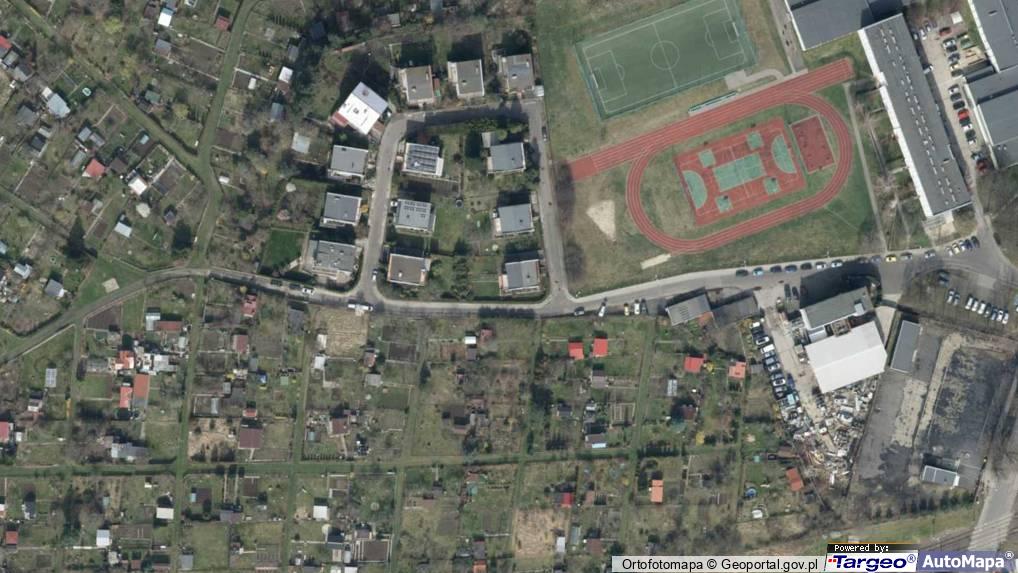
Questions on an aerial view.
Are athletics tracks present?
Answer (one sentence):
Yes, I can see an athletics track in this picture.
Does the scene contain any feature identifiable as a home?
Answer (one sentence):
Yes, there's a home here.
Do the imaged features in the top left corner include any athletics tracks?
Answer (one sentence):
No, looking in the top left corner, there is no athletics track.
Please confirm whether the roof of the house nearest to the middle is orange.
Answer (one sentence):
No, from above the roof of the house nearest to the middle looks gray.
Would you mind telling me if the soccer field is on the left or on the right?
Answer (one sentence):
The soccer field is on the right side of the image.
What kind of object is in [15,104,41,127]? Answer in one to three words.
shed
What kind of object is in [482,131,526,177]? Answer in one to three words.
house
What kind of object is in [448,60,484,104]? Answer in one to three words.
house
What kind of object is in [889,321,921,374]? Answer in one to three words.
building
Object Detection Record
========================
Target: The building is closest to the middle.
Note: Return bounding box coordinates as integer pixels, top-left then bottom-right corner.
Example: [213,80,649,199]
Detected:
[500,260,540,294]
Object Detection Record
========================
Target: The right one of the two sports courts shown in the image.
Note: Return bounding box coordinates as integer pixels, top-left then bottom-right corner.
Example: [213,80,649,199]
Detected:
[790,114,835,173]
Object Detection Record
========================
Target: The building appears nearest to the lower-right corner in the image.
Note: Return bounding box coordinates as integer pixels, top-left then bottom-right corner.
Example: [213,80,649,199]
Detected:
[919,466,958,486]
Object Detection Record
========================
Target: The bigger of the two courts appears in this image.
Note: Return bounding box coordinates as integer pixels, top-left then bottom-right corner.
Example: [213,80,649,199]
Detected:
[675,116,806,225]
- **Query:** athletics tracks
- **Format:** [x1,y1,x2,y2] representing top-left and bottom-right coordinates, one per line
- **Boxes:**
[568,58,855,253]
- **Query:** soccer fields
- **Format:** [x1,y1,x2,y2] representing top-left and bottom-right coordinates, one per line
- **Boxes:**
[575,0,756,119]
